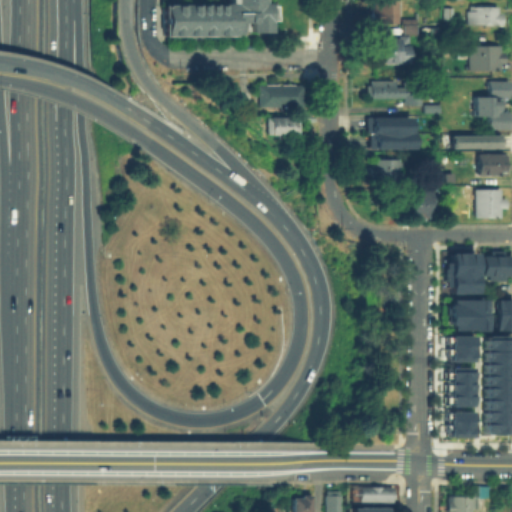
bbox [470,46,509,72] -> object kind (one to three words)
house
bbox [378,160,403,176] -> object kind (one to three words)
house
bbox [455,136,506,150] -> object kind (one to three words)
building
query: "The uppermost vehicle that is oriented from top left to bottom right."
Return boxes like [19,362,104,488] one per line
[229,171,248,188]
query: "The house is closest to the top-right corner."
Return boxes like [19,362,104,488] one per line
[468,7,507,28]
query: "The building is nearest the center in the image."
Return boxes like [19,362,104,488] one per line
[268,118,302,136]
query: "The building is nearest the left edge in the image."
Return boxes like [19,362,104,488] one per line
[170,0,282,38]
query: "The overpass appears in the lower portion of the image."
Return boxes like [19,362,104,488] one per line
[0,441,322,484]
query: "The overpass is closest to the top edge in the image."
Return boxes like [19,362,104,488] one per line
[0,50,118,125]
